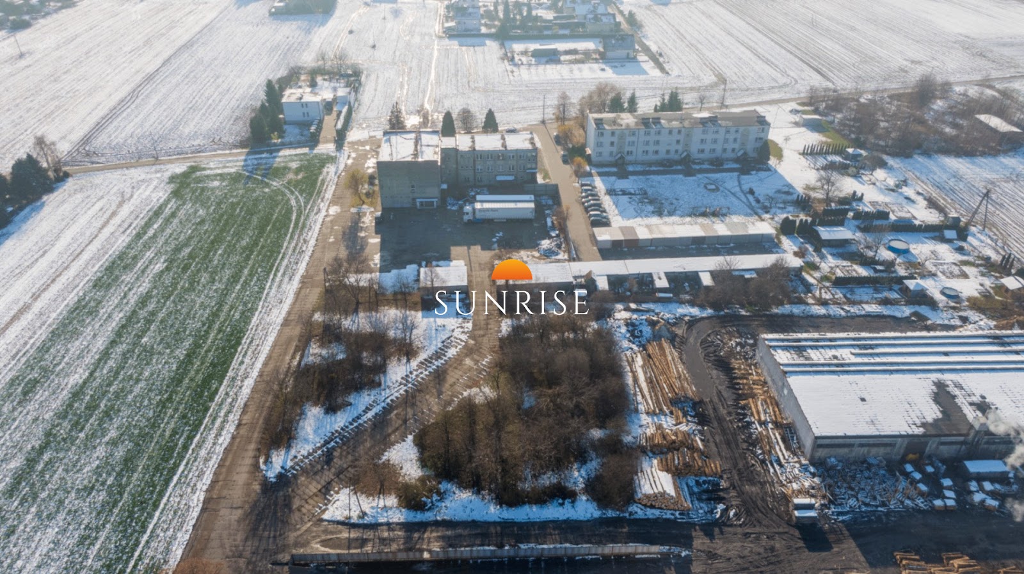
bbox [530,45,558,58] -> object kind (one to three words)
shed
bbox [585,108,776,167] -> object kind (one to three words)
building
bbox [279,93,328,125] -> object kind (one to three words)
house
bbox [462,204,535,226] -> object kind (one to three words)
truck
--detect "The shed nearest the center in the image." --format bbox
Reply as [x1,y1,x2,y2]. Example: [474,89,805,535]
[493,262,572,299]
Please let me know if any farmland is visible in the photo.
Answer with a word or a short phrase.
Yes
